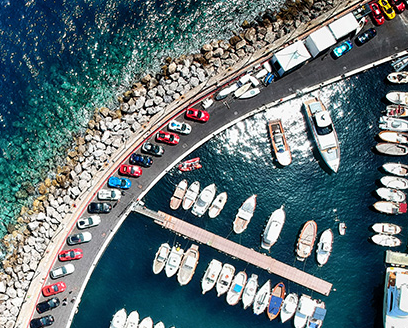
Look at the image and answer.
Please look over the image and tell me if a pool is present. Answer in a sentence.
No, no pool is visible in the view.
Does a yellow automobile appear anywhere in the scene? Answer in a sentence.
Yes, the picture does show a yellow automobile.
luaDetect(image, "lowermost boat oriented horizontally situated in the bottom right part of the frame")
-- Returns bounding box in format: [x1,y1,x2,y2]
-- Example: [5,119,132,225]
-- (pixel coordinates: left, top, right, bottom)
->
[371,233,408,248]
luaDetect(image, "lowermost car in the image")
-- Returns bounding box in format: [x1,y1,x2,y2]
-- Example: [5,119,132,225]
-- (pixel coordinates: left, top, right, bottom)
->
[29,313,55,328]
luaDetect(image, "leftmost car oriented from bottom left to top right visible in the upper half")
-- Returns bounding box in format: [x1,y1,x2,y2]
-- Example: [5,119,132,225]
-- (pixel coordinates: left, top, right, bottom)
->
[329,39,355,59]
